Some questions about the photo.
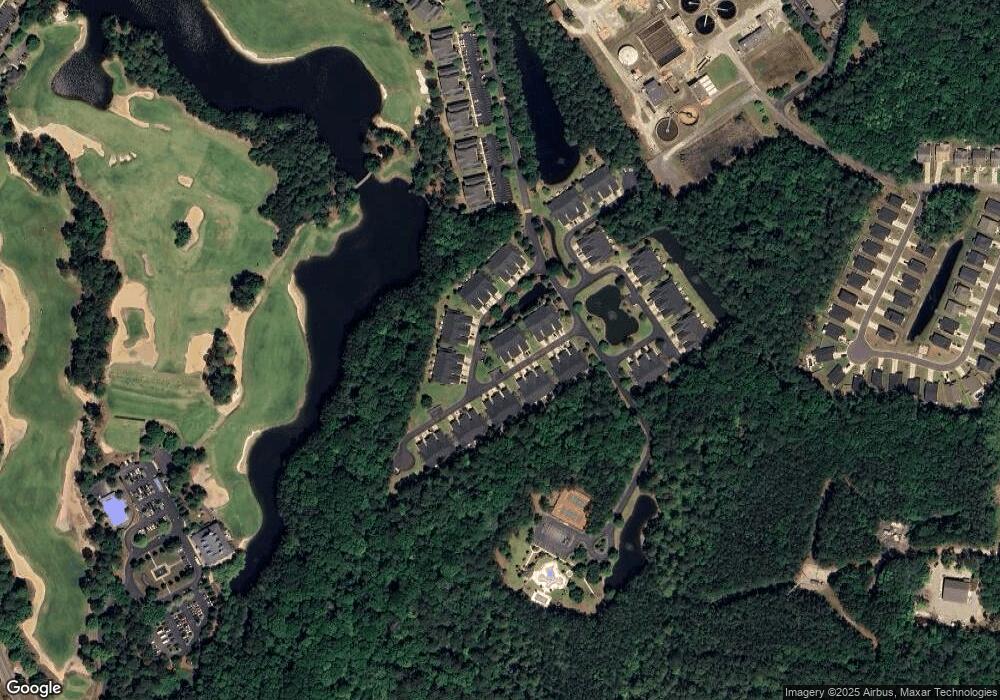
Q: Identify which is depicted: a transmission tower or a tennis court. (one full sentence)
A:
Looking from above, you can make out a tennis court.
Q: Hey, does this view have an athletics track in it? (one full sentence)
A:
No, the frame has no athletics track in it.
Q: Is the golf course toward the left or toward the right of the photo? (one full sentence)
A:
The golf course is on the left side of the image.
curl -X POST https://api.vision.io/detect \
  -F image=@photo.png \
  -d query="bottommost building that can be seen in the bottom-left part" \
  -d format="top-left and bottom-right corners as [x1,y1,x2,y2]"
[189,520,234,567]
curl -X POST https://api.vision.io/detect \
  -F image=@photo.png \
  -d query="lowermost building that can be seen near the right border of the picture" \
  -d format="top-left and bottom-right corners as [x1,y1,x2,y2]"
[941,577,972,604]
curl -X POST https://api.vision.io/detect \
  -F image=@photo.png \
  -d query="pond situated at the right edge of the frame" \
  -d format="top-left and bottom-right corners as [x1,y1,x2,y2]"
[907,241,963,341]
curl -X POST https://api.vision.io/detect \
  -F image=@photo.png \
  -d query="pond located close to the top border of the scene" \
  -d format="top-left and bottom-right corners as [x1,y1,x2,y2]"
[513,21,579,185]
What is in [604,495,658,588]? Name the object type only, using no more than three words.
pond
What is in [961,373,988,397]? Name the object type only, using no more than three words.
house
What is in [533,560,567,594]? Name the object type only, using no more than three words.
swimming pool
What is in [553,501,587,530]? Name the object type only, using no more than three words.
tennis court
